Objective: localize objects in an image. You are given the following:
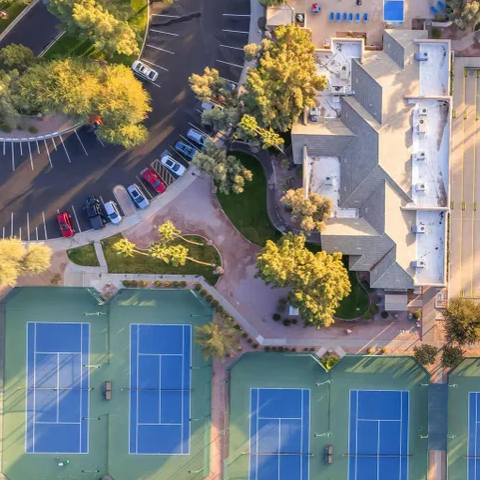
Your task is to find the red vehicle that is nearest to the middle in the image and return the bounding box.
[141,170,166,194]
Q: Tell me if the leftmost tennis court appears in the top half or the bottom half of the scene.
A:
bottom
